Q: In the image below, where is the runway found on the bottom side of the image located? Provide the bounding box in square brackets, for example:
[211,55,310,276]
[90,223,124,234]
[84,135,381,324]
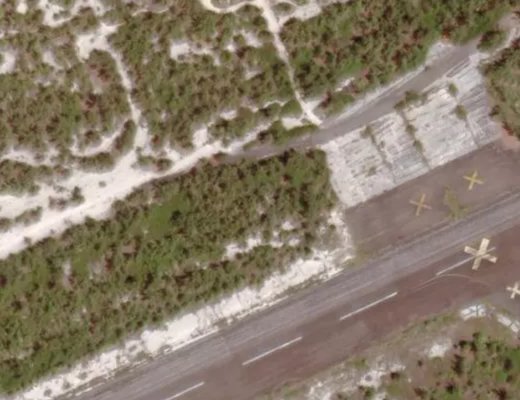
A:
[60,187,520,400]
